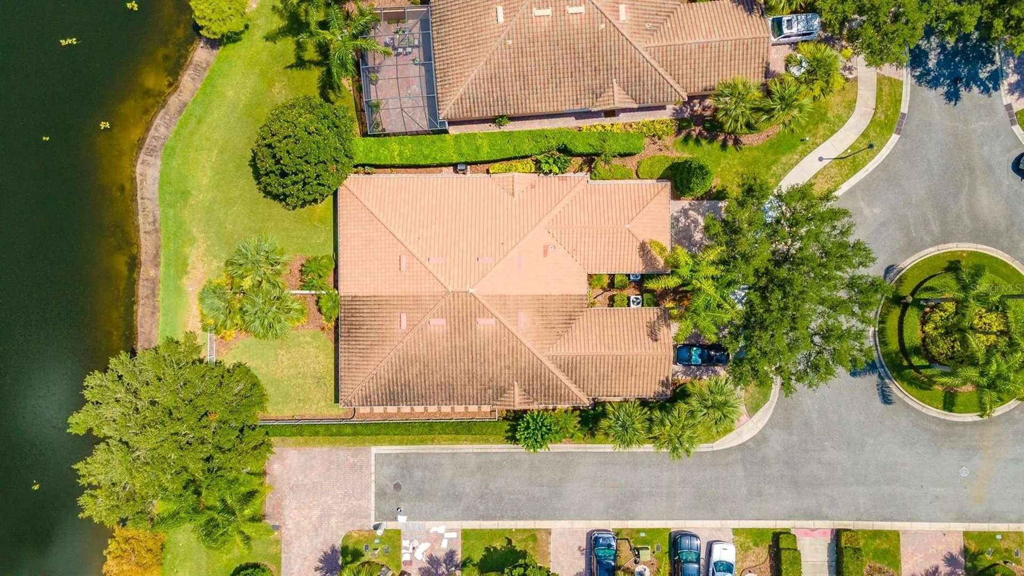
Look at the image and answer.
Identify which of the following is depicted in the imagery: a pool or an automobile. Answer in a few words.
automobile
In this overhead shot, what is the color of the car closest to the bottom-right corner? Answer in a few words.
white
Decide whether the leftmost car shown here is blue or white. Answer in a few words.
blue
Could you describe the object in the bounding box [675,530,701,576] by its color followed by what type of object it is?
blue car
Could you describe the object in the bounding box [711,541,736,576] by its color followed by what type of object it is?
white car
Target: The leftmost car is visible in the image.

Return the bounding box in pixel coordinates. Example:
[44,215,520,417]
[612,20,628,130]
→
[593,529,617,576]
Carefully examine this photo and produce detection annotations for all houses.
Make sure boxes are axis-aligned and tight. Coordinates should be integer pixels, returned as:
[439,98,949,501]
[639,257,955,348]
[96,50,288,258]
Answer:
[338,172,677,412]
[429,0,769,122]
